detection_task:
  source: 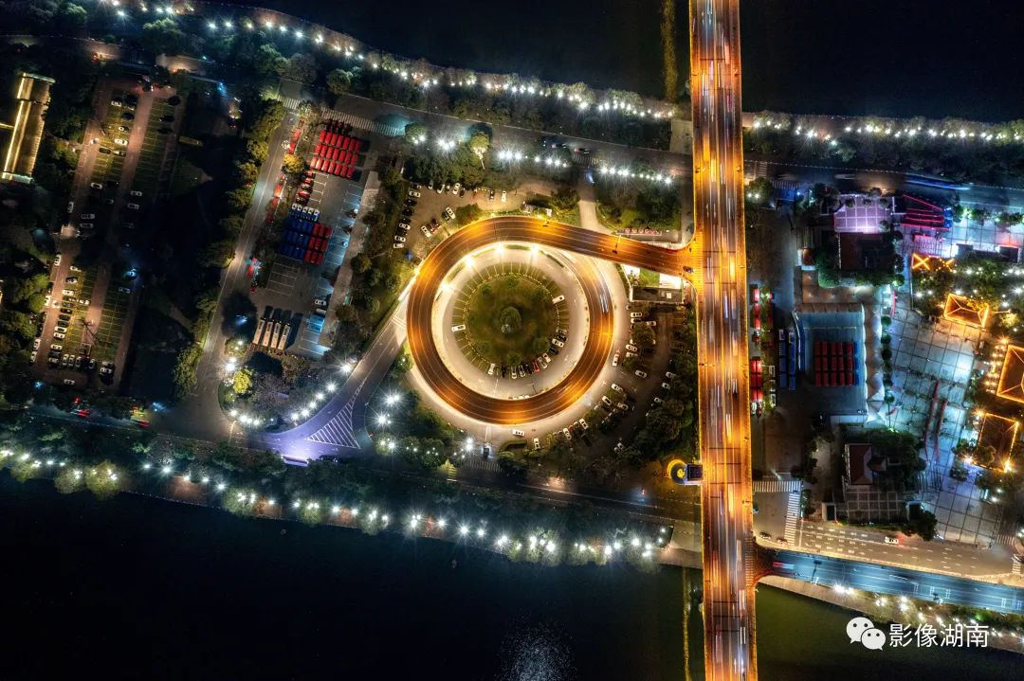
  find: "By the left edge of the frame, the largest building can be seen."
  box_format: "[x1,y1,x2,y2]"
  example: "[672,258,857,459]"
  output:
[1,76,62,185]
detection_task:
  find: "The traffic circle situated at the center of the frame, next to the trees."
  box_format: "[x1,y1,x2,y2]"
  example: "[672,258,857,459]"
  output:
[406,225,630,441]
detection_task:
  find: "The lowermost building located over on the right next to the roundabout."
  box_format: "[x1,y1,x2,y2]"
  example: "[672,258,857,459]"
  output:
[628,286,684,303]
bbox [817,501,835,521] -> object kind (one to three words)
building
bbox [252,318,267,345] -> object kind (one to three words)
vehicle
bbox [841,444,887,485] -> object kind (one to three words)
house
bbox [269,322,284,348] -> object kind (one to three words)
vehicle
